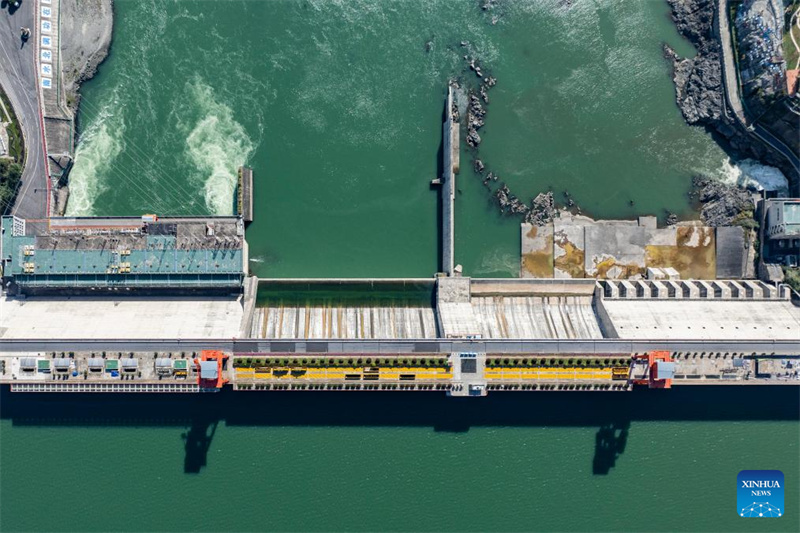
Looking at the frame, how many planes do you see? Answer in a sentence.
The photo contains no planes.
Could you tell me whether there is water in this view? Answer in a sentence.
Yes, water shows up in the scene.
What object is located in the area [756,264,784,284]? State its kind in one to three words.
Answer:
shed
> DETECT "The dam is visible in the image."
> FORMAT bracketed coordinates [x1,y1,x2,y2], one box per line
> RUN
[0,275,800,396]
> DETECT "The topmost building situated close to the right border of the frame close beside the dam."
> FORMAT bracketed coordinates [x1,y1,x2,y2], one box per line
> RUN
[764,199,800,258]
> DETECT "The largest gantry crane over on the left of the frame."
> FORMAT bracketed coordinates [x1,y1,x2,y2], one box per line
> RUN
[191,350,237,388]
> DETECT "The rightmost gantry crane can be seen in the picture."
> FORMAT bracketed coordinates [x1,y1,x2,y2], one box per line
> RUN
[620,350,674,388]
